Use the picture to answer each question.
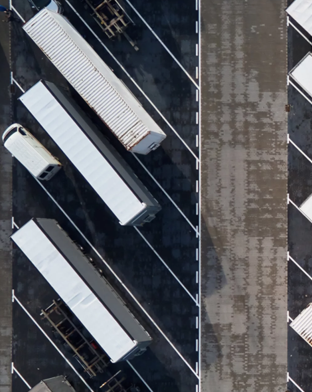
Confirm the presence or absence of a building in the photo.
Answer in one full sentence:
No, there isn't any building down there.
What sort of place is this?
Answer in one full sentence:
The area seen from above is a parking lot.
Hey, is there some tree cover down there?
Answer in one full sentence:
No, the scene doesn't show any tree cover.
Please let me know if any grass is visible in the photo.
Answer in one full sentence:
No, there's no grass in this view.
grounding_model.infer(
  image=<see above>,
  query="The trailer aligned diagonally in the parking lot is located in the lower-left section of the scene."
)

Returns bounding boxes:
[10,218,154,362]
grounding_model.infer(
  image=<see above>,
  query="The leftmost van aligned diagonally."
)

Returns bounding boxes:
[7,125,63,177]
